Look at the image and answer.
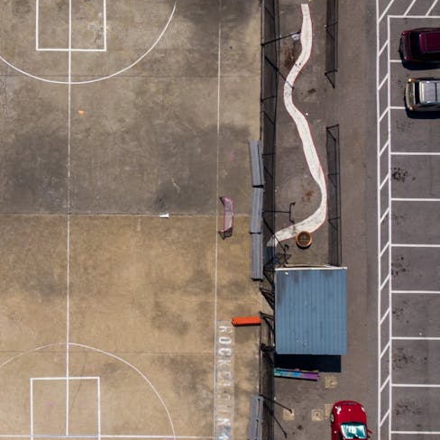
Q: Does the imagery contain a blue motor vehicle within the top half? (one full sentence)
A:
No, I see no blue motor vehicle within the top half.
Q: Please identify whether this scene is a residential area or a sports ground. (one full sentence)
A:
This image shows a sports ground.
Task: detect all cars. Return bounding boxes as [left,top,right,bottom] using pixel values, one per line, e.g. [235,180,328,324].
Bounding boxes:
[330,399,375,440]
[403,76,440,112]
[398,28,440,66]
